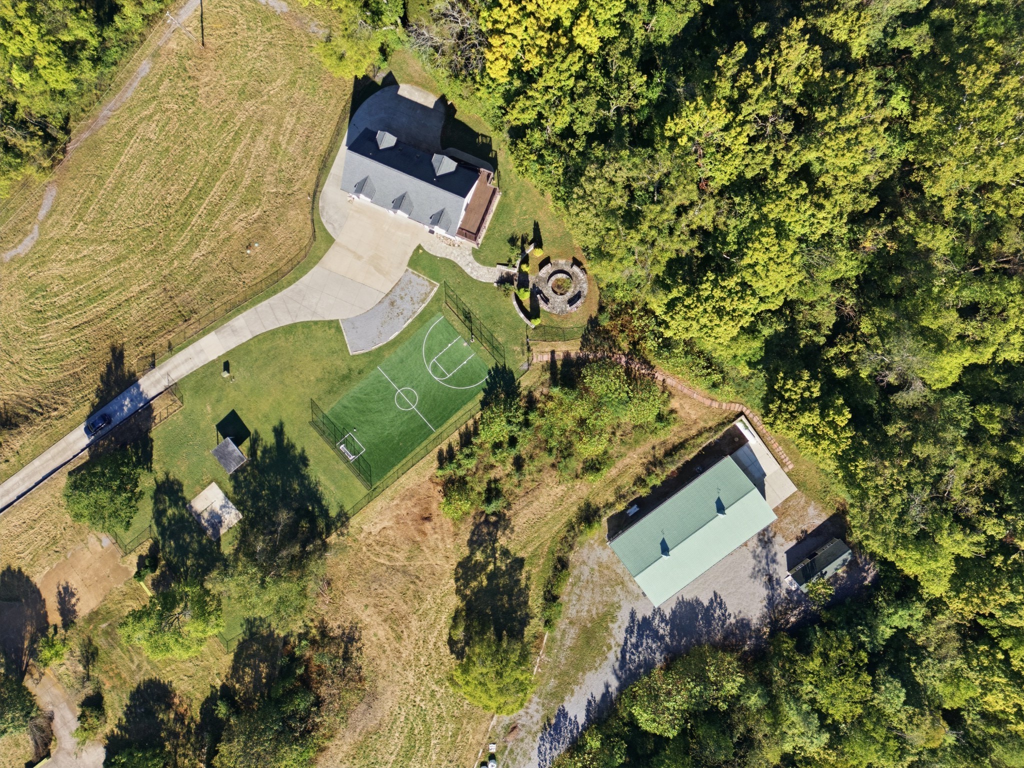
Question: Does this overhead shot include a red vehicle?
No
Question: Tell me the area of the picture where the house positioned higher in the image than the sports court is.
top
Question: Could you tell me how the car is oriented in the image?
at an angle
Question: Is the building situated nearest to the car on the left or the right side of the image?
left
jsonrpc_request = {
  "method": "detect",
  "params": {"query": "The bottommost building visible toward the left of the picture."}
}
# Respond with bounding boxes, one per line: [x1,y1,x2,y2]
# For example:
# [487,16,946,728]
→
[210,437,251,474]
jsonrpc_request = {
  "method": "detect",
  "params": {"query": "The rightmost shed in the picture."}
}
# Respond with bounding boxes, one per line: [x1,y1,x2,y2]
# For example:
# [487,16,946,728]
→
[788,538,854,594]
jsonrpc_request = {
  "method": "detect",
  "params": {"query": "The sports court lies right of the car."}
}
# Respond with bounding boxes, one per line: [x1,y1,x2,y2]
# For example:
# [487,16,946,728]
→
[327,313,503,487]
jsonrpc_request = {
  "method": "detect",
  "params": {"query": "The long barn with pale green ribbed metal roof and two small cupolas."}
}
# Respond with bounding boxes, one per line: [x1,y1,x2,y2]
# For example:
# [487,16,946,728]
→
[609,456,777,607]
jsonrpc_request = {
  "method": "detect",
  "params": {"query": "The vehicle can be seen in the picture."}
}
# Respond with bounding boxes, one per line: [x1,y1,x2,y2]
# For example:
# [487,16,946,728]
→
[81,412,110,436]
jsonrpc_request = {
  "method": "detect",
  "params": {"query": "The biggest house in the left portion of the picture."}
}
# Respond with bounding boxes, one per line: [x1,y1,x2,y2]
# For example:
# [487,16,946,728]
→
[338,123,480,240]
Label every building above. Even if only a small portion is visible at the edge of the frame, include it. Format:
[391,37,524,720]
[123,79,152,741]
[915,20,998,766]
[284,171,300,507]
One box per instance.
[788,538,854,594]
[338,123,480,240]
[609,456,777,607]
[210,437,251,474]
